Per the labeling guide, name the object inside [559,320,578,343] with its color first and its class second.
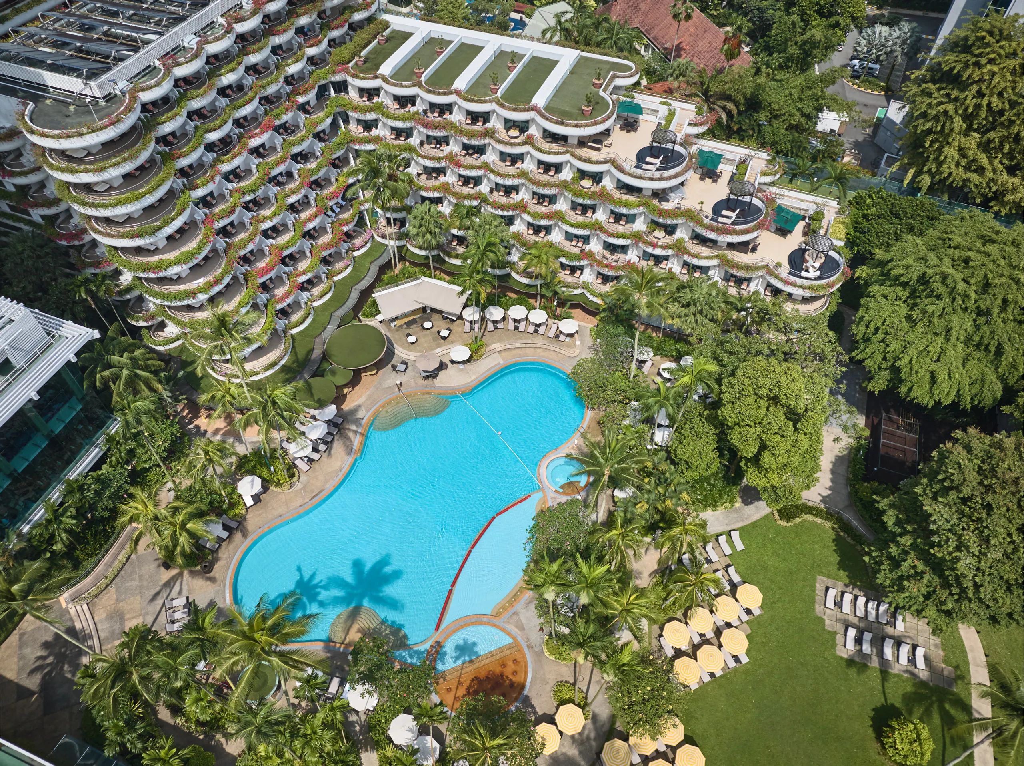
white umbrella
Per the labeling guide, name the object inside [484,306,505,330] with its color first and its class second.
white umbrella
